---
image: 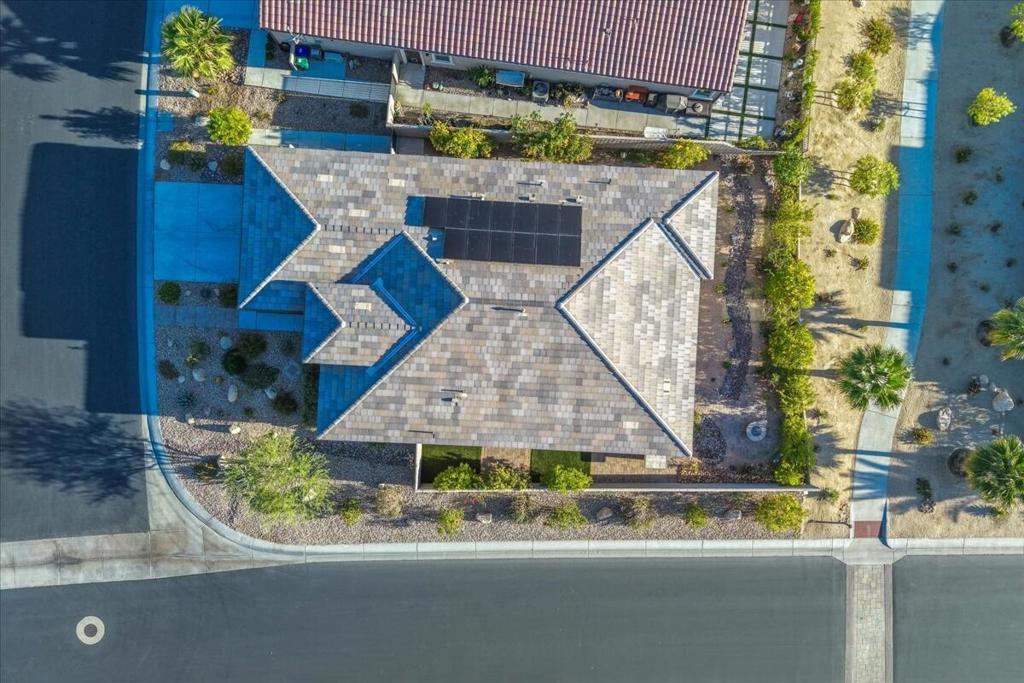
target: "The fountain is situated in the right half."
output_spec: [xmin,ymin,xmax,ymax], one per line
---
[744,421,767,442]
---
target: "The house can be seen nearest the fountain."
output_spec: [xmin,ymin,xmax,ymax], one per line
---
[237,145,720,459]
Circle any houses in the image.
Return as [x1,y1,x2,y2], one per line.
[237,145,720,459]
[259,0,750,103]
